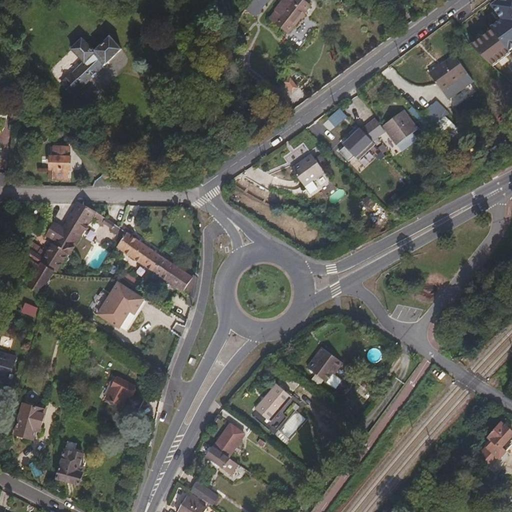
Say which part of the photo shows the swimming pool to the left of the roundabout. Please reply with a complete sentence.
The swimming pool to the left of the roundabout is located in the left region of the scene.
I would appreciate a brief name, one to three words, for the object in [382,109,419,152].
house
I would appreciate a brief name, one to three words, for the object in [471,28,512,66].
house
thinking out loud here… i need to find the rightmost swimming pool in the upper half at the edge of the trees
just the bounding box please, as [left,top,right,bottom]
[328,190,347,202]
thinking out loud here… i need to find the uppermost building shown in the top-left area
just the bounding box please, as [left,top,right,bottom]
[70,35,122,81]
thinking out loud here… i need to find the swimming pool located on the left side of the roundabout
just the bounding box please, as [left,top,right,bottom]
[87,247,107,268]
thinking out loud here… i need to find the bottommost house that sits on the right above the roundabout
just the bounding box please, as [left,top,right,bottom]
[292,154,329,194]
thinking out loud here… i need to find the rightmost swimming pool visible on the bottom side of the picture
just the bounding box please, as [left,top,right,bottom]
[367,347,382,362]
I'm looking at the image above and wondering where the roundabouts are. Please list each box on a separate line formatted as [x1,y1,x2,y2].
[216,242,314,342]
